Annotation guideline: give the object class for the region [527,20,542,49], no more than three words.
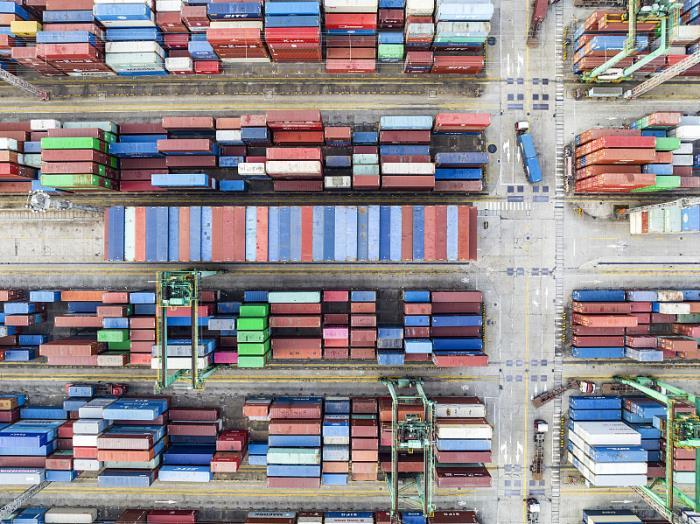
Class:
vehicle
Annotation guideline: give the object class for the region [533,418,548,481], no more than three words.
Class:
vehicle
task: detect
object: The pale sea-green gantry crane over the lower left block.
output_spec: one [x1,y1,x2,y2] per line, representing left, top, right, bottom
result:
[378,383,434,522]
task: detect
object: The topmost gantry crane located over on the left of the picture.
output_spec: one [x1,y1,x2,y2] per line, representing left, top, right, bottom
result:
[158,269,233,391]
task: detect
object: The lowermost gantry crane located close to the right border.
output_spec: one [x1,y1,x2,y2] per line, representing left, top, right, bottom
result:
[609,380,700,523]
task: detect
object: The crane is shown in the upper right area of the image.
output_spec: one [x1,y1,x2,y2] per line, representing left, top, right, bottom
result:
[583,0,675,81]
